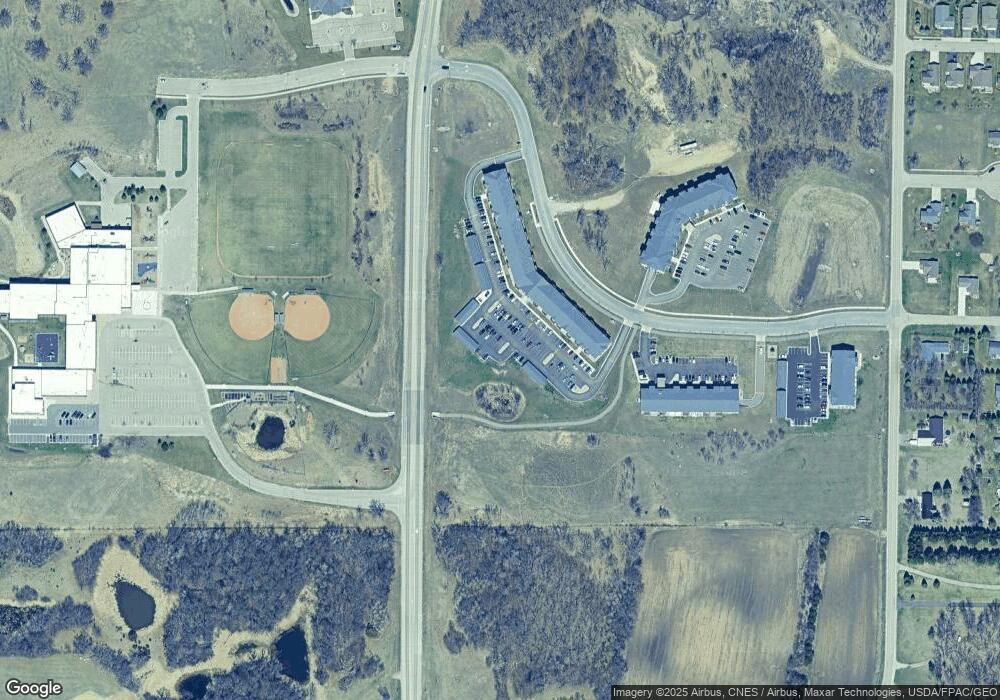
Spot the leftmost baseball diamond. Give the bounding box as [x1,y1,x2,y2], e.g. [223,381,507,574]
[187,291,275,385]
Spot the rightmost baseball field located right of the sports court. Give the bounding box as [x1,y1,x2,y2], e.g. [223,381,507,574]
[284,291,375,385]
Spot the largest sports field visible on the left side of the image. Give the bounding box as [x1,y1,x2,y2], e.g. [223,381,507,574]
[218,140,349,275]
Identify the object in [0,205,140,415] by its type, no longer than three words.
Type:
building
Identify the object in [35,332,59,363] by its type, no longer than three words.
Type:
sports court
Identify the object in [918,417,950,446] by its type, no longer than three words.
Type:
house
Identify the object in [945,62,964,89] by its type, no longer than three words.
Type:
house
